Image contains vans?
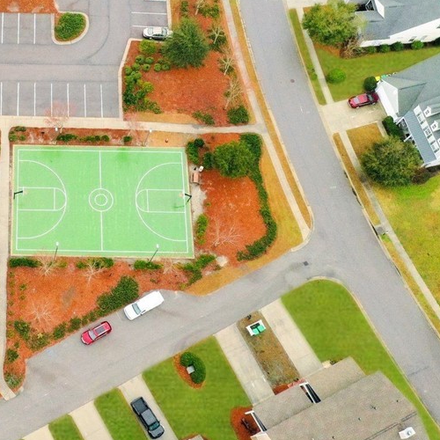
Yes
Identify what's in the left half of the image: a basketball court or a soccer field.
basketball court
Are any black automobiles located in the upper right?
No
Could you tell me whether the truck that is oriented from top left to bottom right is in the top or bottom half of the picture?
bottom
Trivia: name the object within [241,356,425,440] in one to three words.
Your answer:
house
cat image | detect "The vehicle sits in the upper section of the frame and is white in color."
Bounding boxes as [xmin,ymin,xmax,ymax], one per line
[143,27,173,42]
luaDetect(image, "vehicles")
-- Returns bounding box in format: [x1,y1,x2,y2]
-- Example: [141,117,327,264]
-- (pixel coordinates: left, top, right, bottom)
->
[125,292,166,322]
[80,319,114,345]
[347,90,378,108]
[143,27,173,42]
[131,396,165,440]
